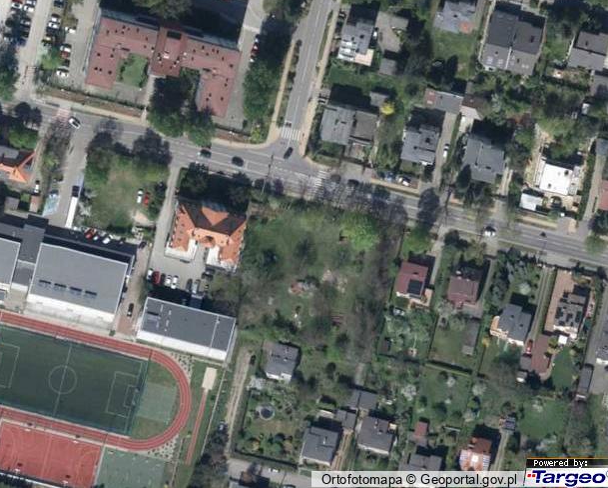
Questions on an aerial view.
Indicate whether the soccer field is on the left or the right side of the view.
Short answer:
left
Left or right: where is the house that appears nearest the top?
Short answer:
right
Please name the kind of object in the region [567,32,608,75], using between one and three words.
house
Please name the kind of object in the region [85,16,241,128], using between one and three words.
building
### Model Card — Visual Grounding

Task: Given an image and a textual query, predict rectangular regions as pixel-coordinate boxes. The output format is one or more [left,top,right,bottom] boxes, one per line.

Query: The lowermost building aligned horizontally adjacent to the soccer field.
[138,297,235,358]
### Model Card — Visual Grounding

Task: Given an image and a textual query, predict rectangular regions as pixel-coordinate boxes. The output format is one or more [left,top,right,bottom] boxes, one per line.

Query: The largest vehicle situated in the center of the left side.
[66,193,78,228]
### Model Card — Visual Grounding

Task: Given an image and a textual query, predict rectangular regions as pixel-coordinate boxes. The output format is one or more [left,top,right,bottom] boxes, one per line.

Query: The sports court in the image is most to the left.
[0,418,104,488]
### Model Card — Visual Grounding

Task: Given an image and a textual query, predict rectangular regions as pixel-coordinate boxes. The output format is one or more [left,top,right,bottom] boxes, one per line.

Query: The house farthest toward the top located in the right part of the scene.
[433,1,477,39]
